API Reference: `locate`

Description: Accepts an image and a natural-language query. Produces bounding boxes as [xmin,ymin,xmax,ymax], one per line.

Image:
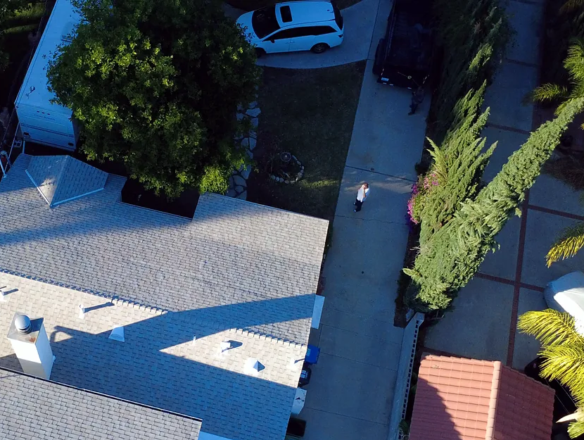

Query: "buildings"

[0,151,329,440]
[406,354,558,440]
